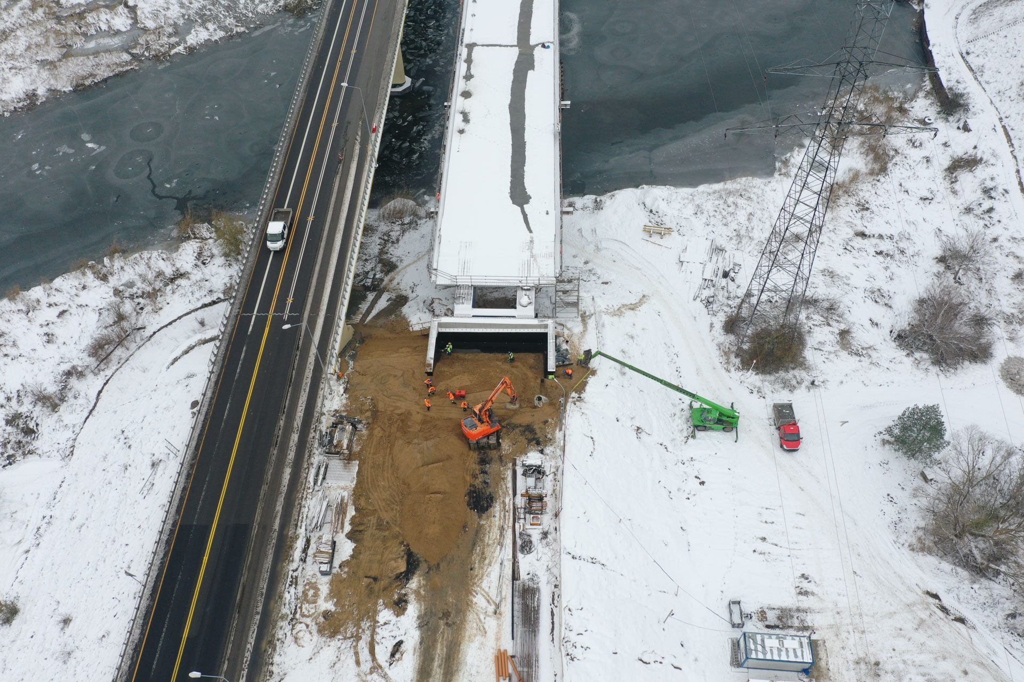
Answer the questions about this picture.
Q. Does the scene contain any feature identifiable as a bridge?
Yes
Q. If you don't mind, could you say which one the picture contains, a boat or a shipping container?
shipping container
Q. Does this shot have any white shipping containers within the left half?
No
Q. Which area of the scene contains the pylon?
top right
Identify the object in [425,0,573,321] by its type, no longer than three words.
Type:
bridge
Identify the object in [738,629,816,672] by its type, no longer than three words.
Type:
shipping container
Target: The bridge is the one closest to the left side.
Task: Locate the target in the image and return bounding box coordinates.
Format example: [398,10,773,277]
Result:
[225,0,409,376]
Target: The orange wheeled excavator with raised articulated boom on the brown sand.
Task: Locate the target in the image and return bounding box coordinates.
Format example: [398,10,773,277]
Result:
[463,377,519,456]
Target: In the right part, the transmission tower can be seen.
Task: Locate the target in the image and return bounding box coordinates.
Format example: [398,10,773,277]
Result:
[721,0,950,354]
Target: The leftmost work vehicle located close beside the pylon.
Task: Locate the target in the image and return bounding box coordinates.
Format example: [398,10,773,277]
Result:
[576,349,747,445]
